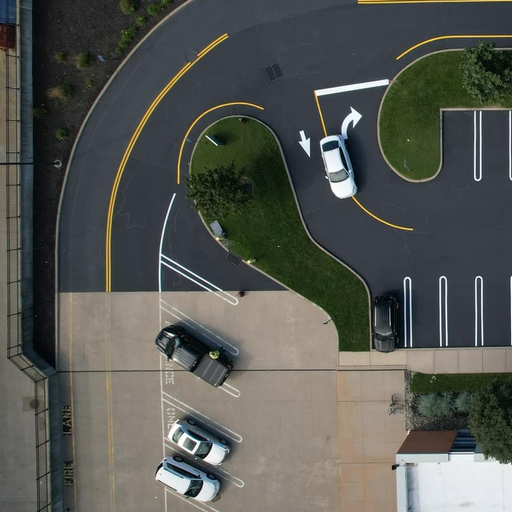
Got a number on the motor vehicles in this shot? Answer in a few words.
five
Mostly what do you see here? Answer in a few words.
paved ground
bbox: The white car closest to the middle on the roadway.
[321,134,359,201]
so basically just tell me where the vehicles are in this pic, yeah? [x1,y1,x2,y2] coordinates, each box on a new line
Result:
[154,451,223,503]
[321,134,359,201]
[370,294,399,351]
[155,324,235,388]
[166,415,234,466]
